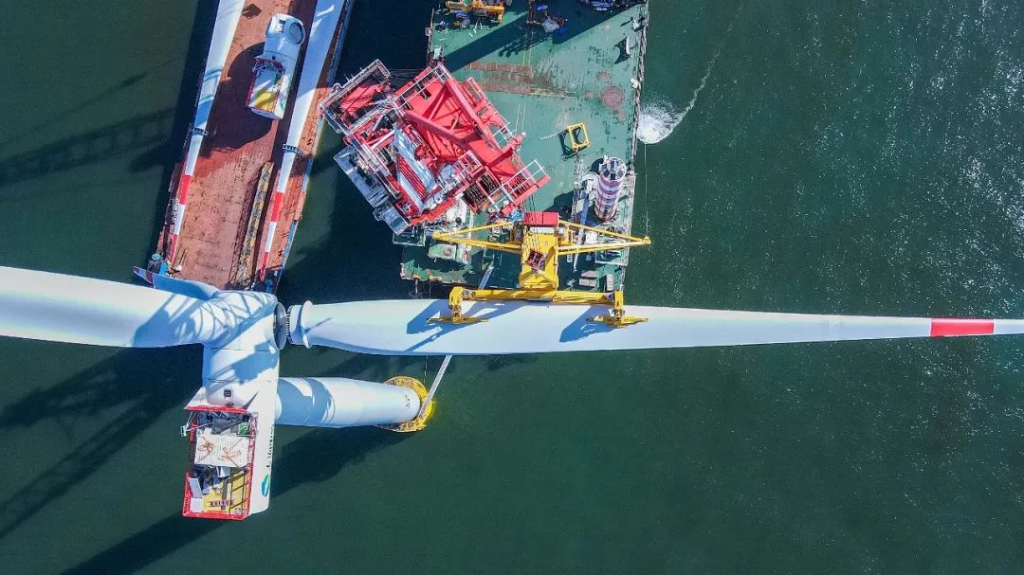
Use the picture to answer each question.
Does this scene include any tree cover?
No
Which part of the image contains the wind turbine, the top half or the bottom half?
bottom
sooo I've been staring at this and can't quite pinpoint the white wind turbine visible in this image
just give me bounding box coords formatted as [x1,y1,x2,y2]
[0,264,440,526]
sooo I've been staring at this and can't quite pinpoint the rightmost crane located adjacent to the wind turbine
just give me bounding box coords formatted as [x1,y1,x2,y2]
[323,59,552,277]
